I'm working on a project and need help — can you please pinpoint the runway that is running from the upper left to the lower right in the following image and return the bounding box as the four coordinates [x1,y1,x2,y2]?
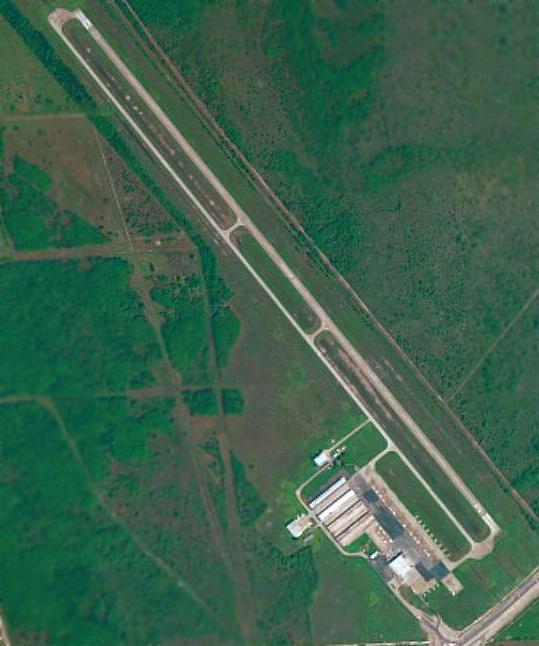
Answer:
[74,9,502,535]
